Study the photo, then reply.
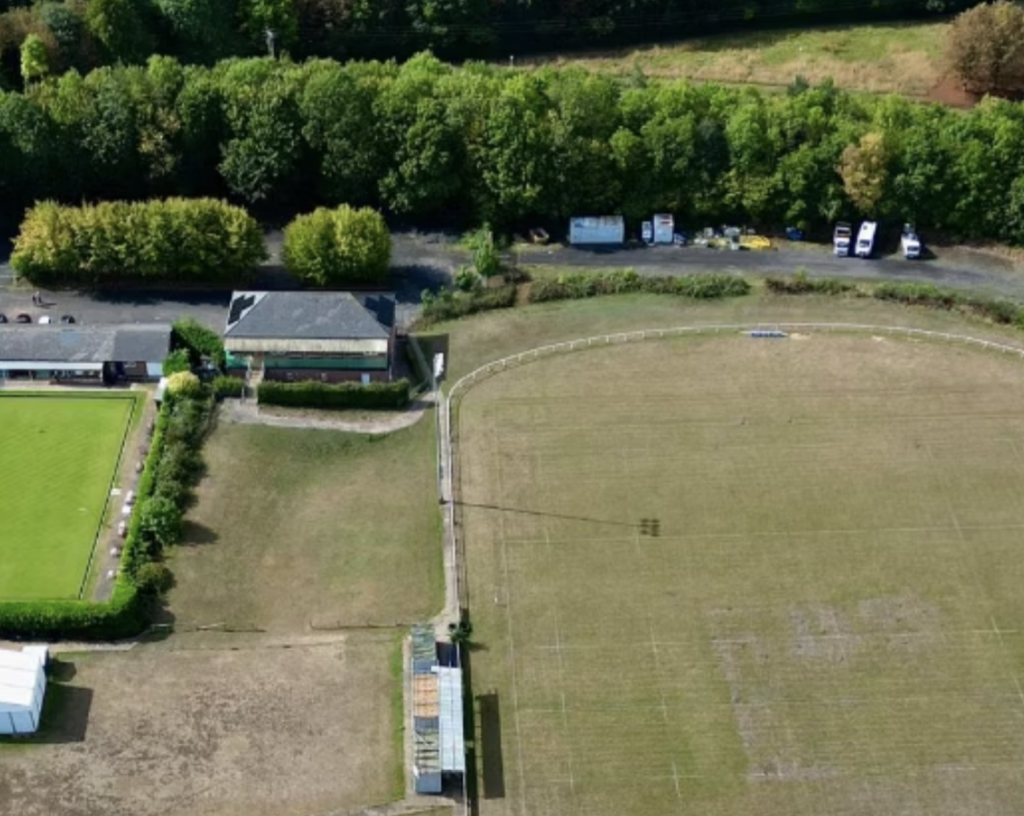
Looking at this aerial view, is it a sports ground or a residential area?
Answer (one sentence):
The picture captures a sports ground.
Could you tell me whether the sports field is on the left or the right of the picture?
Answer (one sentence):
The sports field is on the right side of the image.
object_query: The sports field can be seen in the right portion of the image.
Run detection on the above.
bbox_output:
[452,332,1024,816]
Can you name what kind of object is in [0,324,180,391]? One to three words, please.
building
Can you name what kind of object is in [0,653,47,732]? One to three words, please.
tent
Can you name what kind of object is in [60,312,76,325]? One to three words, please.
vehicle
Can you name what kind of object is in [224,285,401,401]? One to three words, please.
building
